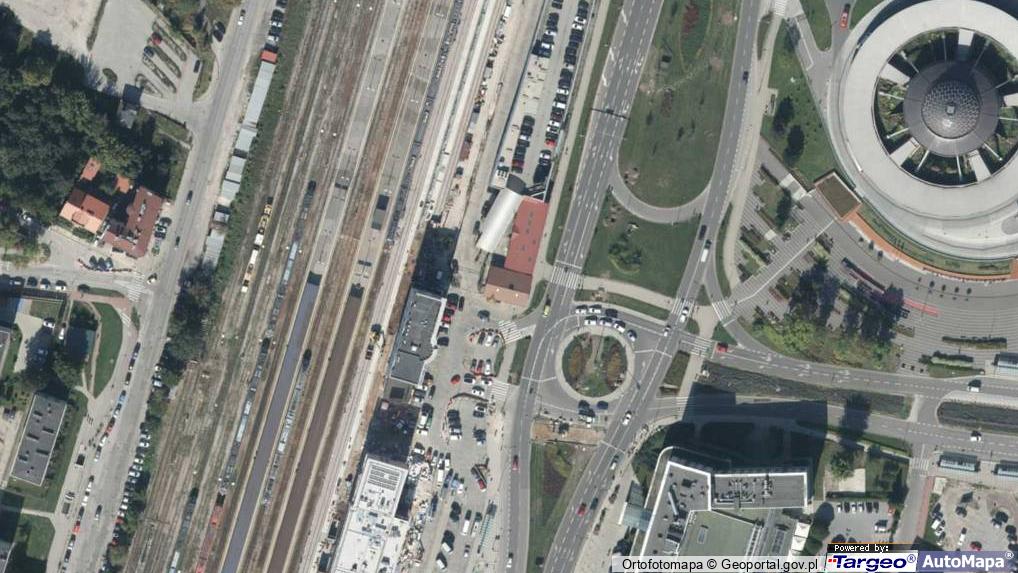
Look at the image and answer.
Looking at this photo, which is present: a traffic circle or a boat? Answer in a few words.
traffic circle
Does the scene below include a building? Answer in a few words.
Yes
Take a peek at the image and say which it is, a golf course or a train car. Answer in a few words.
train car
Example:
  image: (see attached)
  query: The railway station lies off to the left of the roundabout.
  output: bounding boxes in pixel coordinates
[383,288,446,407]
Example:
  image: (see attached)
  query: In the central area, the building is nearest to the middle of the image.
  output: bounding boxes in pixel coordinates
[482,267,533,308]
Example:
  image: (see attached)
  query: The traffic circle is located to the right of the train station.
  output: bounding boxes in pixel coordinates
[557,326,633,404]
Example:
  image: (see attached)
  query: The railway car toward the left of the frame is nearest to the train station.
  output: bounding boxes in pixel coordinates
[386,201,405,244]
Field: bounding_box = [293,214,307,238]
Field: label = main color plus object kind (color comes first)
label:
gray rail car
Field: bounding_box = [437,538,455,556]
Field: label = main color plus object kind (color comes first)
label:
white vehicle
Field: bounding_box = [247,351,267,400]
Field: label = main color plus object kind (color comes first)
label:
gray rail car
